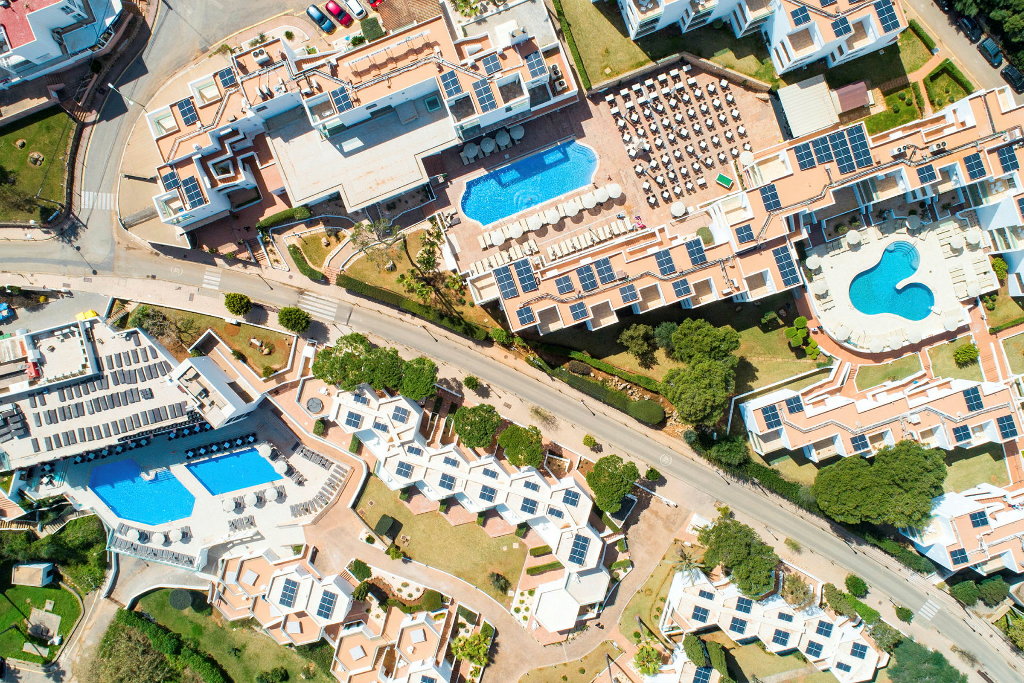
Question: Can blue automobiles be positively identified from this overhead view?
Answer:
Yes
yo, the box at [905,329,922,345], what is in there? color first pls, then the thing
white umbrella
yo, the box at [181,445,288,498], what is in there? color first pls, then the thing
blue swimming pool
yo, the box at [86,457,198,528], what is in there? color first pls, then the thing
blue swimming pool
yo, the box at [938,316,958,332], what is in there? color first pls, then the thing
white umbrella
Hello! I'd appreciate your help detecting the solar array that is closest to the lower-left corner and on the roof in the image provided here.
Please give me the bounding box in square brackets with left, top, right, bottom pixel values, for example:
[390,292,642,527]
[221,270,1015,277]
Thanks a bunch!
[278,579,299,608]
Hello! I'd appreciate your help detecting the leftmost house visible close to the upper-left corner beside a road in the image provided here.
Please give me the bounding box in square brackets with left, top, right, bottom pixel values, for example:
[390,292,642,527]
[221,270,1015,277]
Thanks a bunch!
[0,0,140,81]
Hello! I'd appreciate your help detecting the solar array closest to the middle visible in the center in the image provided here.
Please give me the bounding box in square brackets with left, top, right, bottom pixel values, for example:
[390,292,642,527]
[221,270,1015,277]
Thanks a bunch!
[517,307,535,325]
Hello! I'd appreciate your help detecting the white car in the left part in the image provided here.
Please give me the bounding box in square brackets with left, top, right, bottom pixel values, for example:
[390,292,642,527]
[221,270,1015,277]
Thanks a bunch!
[342,0,369,23]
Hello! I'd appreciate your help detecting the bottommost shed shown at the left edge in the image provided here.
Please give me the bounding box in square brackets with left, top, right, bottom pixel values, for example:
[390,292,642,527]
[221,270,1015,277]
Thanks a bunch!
[12,561,57,587]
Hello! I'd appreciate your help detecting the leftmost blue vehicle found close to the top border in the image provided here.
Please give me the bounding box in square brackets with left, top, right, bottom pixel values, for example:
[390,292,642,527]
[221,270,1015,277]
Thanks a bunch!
[306,4,337,35]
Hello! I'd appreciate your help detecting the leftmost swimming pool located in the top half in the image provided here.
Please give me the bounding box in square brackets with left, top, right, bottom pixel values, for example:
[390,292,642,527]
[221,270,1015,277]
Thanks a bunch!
[456,135,602,230]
